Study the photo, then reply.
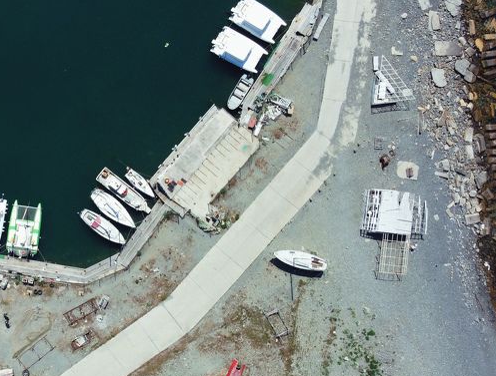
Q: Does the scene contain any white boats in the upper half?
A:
Yes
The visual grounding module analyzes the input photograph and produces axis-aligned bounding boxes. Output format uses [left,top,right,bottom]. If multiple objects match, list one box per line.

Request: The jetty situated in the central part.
[147,103,260,219]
